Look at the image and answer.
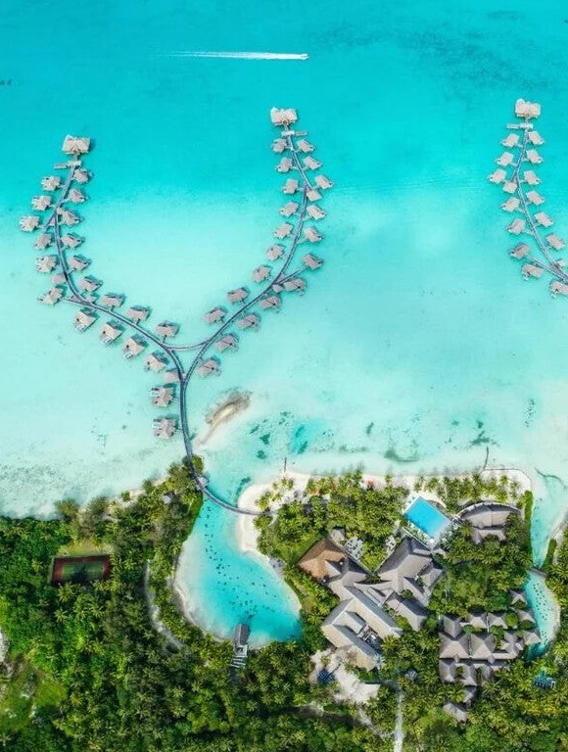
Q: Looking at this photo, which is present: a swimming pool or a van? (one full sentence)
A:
This aerial view contains a swimming pool.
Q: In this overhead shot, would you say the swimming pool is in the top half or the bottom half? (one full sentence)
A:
The bottom half of the photo is where the swimming pool is.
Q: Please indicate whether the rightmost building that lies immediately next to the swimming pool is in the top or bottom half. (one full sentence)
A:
The rightmost building that lies immediately next to the swimming pool sits in the bottom half of the picture.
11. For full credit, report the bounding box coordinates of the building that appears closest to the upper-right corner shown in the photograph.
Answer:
[513,97,541,120]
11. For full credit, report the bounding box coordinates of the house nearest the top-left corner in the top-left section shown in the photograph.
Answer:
[62,133,91,155]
